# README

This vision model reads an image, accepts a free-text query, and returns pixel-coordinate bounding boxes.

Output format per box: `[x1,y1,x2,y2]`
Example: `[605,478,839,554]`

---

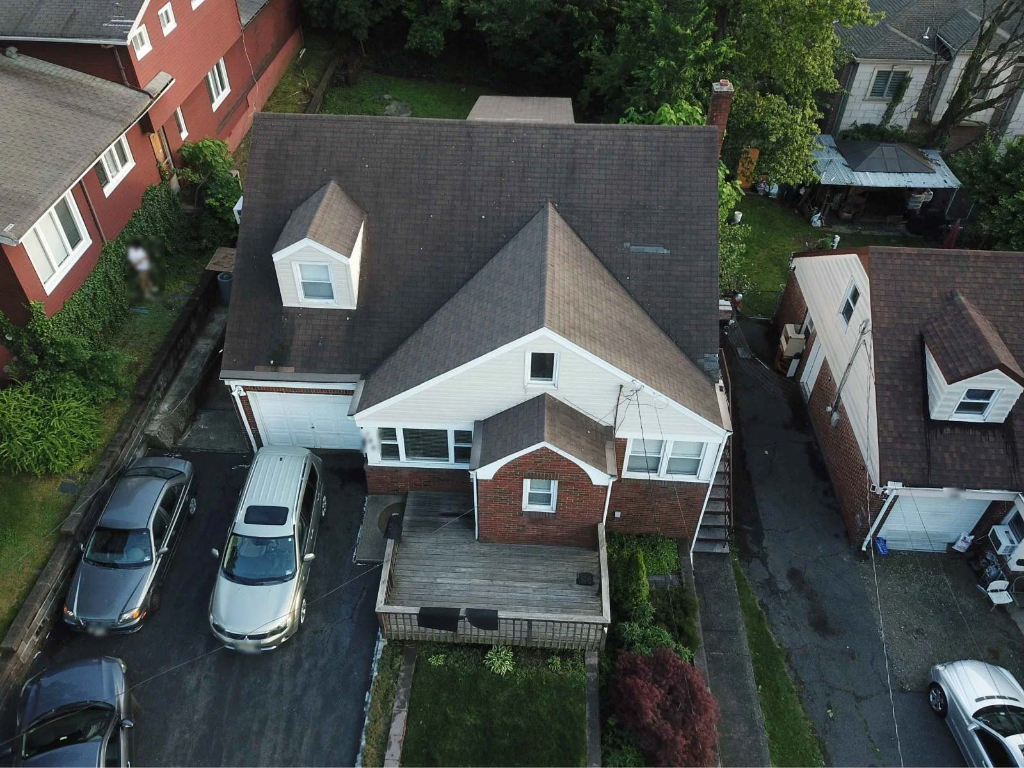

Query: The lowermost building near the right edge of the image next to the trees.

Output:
[780,249,1024,560]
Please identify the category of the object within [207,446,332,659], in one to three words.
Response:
car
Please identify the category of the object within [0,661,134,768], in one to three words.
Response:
car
